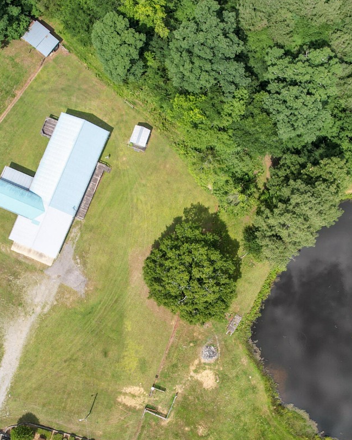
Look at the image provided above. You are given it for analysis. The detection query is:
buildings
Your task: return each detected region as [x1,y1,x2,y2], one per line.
[130,125,151,150]
[22,21,59,59]
[0,112,109,257]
